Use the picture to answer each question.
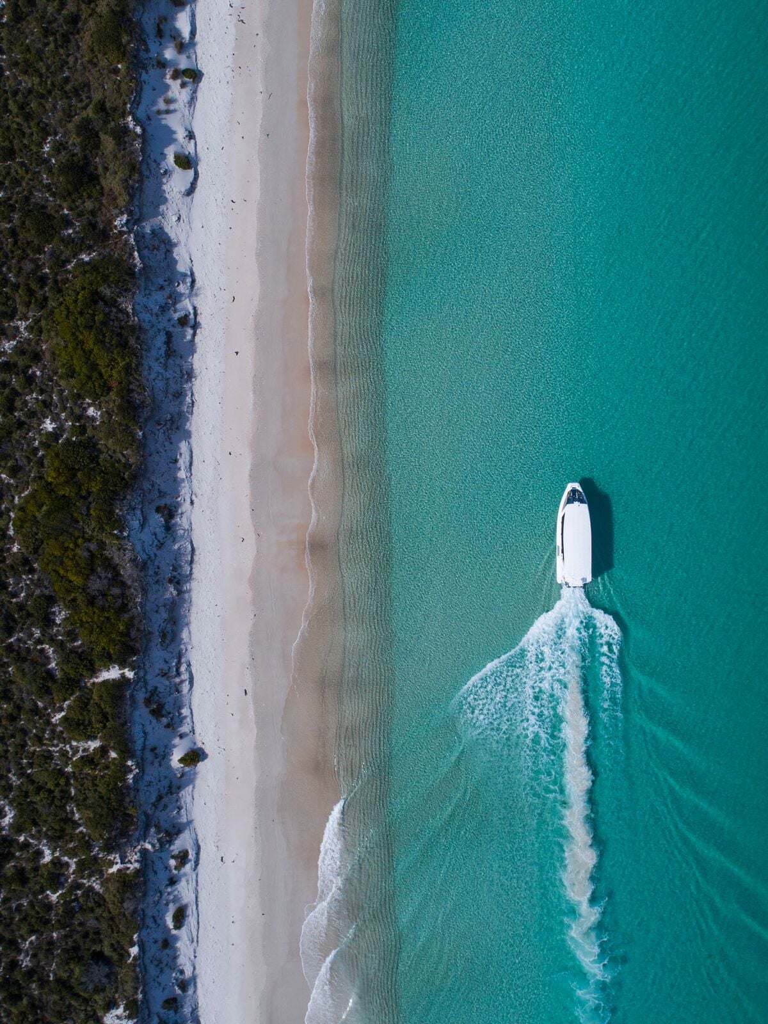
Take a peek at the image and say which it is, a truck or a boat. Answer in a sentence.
It is a boat that can be seen here.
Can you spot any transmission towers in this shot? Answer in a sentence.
No, there appears to be no transmission tower in this shot.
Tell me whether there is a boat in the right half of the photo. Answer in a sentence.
Yes, in the right half of the photo there is a boat.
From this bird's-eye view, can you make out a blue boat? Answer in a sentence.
No, the photo shows no blue boat.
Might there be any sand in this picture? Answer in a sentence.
Yes, there is sand in the image.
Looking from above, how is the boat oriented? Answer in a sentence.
What the image shows is the boat lying up and down.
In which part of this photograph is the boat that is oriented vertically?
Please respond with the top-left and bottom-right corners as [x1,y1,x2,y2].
[556,482,592,588]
